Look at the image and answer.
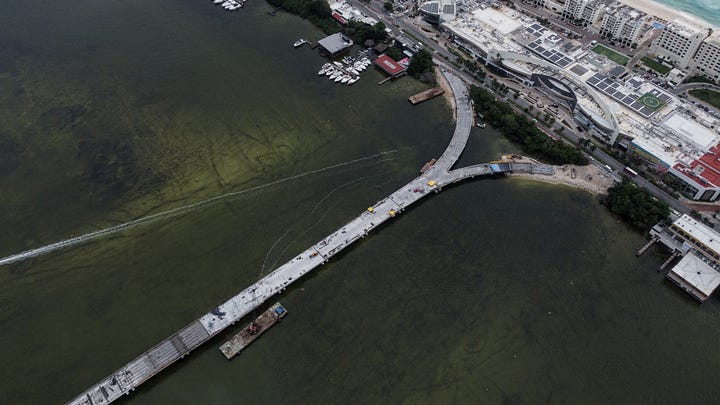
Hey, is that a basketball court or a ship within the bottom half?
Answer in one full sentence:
The feature located within the bottom half is a ship.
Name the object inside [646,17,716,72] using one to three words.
building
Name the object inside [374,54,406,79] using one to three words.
building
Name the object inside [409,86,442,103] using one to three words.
ship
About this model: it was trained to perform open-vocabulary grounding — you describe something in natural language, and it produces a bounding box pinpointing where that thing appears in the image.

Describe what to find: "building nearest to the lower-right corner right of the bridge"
[660,254,720,311]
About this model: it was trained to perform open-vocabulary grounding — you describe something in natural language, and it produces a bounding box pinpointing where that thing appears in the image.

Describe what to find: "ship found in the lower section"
[219,302,288,359]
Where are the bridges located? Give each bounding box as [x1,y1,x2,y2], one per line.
[63,70,555,405]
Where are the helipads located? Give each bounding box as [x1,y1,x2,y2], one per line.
[635,92,667,113]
